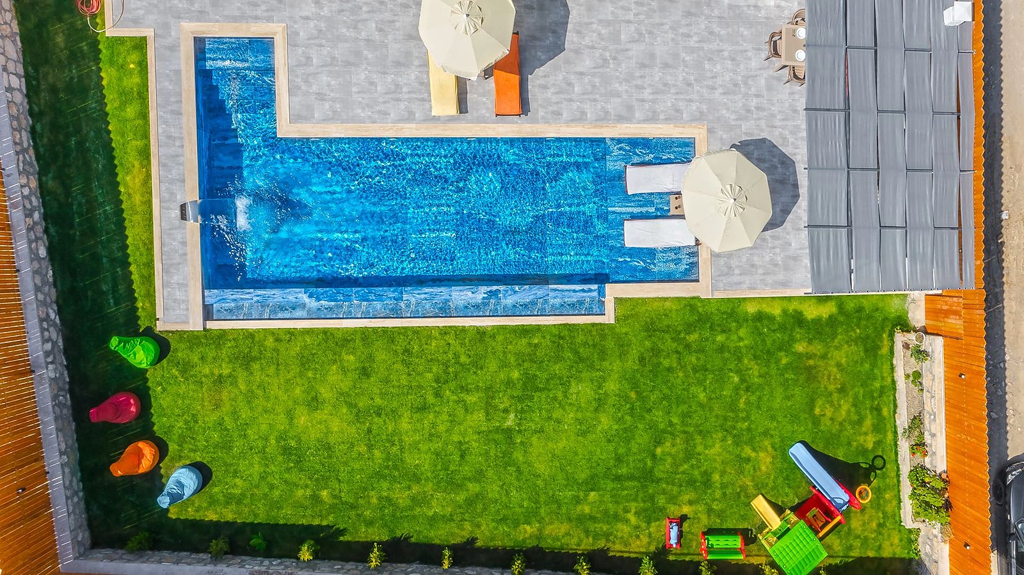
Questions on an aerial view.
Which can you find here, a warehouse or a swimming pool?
swimming pool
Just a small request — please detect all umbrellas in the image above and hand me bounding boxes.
[679,152,776,249]
[419,0,515,77]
